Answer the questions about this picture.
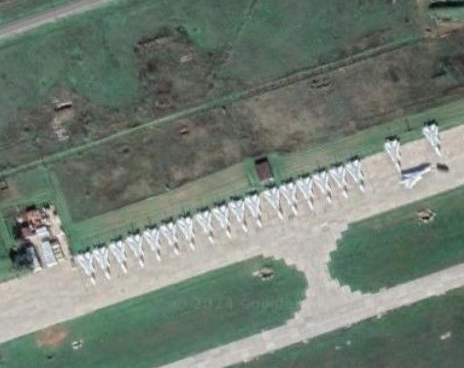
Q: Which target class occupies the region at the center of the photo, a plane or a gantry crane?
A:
plane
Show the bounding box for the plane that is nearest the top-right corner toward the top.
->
[423,124,442,158]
